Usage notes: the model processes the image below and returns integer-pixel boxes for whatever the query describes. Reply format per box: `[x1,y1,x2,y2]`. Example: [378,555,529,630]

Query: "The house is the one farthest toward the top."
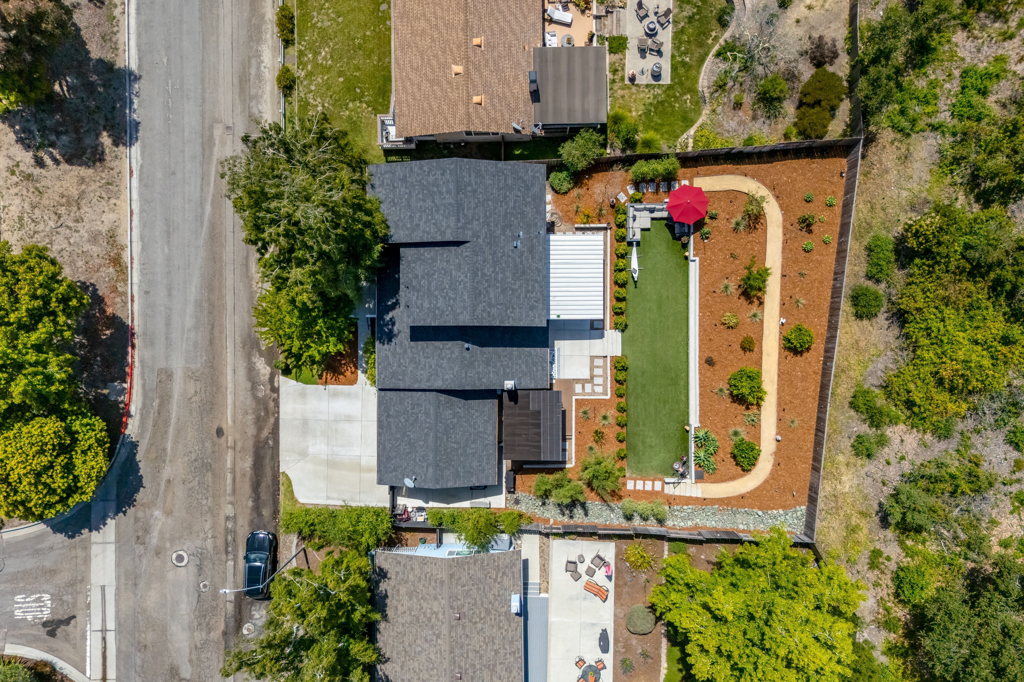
[375,0,607,149]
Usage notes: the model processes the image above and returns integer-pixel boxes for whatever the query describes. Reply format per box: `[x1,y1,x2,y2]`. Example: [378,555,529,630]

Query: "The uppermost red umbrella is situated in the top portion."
[665,181,708,224]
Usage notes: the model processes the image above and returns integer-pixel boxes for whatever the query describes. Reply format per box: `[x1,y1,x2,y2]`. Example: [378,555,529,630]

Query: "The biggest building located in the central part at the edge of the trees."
[366,157,551,487]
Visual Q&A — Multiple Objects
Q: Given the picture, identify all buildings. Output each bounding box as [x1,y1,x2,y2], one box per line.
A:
[375,0,607,149]
[373,539,523,682]
[366,157,551,487]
